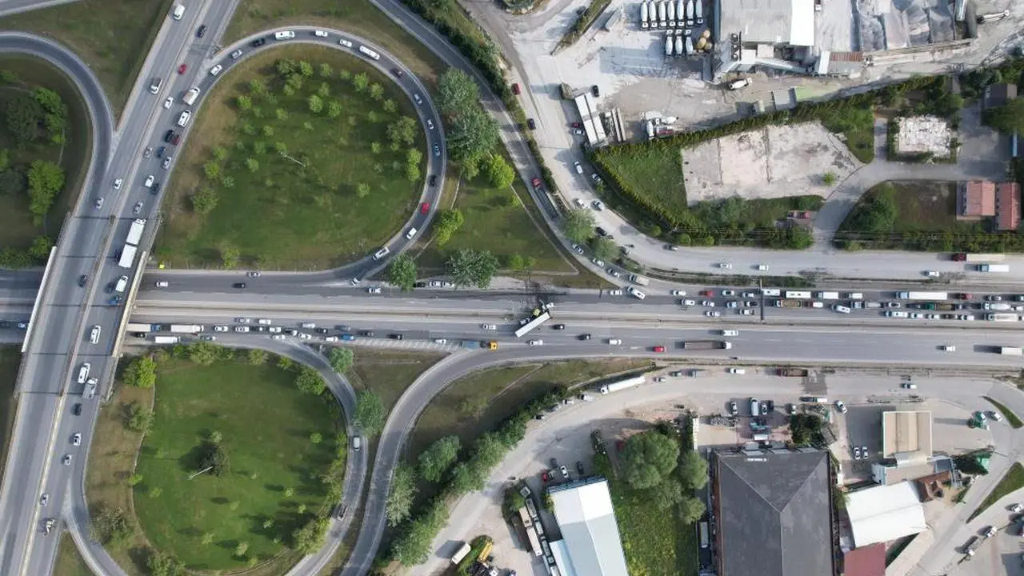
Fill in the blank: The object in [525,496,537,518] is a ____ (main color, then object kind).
gray vehicle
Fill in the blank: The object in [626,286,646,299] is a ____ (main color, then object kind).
white vehicle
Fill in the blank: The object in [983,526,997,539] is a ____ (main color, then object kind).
white vehicle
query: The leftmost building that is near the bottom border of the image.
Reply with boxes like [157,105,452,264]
[549,475,627,576]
